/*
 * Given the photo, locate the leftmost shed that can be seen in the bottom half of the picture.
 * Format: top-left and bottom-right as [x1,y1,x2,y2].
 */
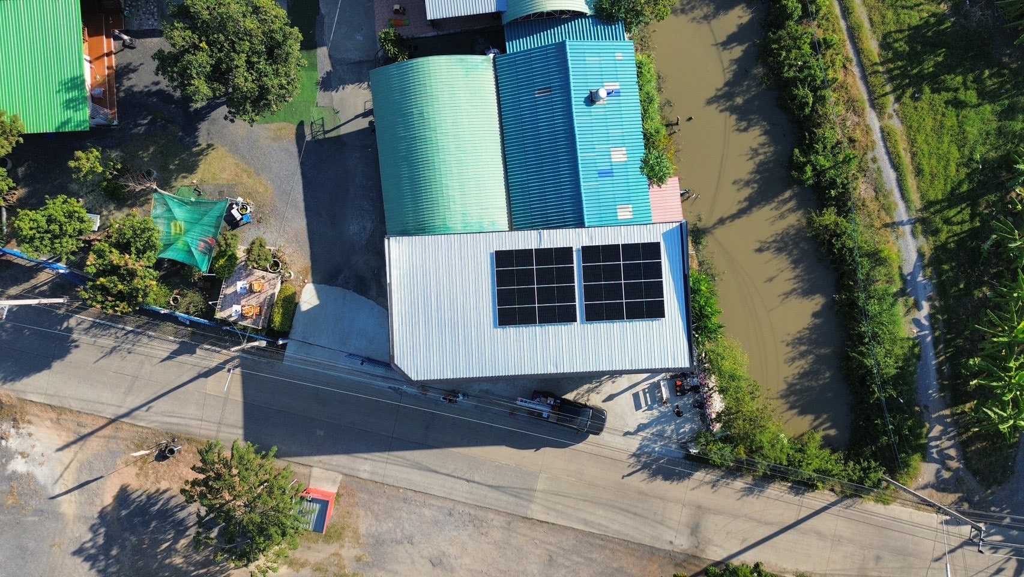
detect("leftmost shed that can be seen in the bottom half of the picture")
[294,487,337,532]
